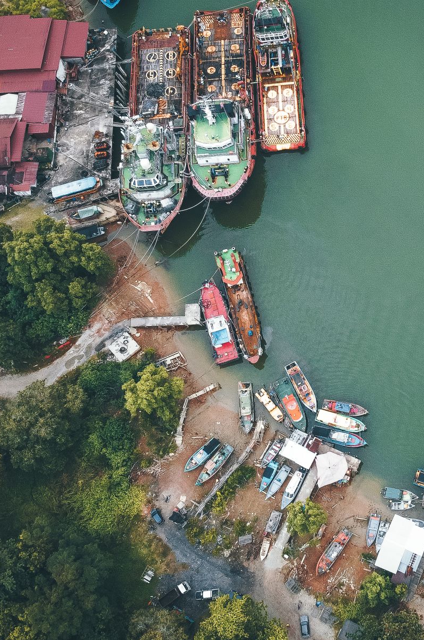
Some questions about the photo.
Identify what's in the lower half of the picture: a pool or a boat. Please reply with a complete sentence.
The one visible in the lower half of the picture is a boat.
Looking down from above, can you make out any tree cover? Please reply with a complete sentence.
Yes, some tree cover is visible.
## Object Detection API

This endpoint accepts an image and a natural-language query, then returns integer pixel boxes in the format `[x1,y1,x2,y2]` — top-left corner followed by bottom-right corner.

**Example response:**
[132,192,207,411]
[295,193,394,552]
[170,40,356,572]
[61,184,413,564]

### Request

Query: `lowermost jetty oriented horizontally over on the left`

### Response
[130,304,201,327]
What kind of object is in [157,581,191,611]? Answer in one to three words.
truck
